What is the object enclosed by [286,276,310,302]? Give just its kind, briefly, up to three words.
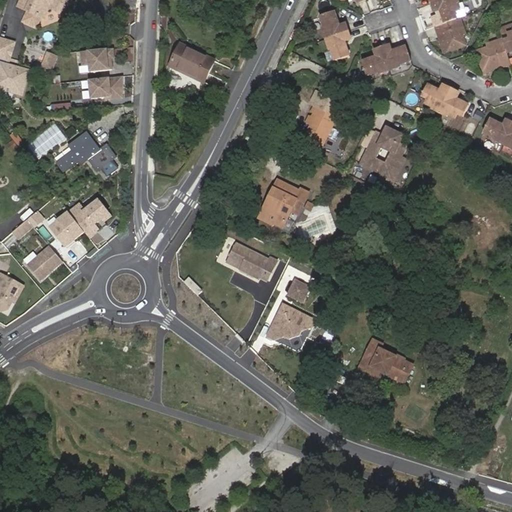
building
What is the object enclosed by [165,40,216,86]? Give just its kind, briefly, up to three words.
house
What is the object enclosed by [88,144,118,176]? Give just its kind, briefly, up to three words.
house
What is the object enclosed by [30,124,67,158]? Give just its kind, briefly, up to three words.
greenhouse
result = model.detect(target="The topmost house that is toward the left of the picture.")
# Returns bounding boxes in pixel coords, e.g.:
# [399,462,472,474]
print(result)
[15,0,56,29]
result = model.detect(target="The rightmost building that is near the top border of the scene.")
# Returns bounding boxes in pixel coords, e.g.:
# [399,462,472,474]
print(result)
[478,22,512,72]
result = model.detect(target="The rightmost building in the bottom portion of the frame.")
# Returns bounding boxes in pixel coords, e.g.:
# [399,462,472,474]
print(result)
[359,337,414,380]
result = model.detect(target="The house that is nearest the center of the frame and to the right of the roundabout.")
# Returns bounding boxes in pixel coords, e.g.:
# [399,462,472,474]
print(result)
[226,241,280,282]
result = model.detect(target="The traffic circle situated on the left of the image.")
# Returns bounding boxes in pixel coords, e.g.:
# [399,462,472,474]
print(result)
[90,253,160,323]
